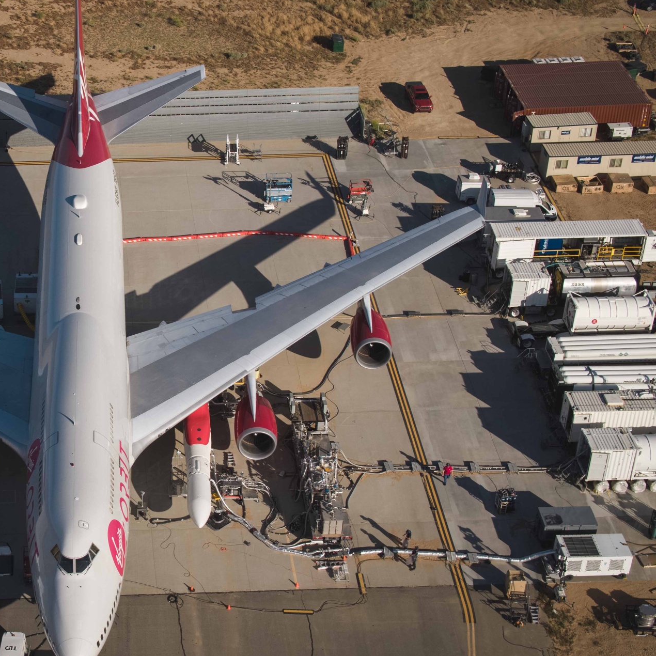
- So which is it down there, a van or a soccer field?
van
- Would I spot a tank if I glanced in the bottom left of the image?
No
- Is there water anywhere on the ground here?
No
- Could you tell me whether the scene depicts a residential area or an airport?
airport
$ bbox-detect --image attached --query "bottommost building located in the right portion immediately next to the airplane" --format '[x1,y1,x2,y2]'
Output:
[538,138,656,180]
